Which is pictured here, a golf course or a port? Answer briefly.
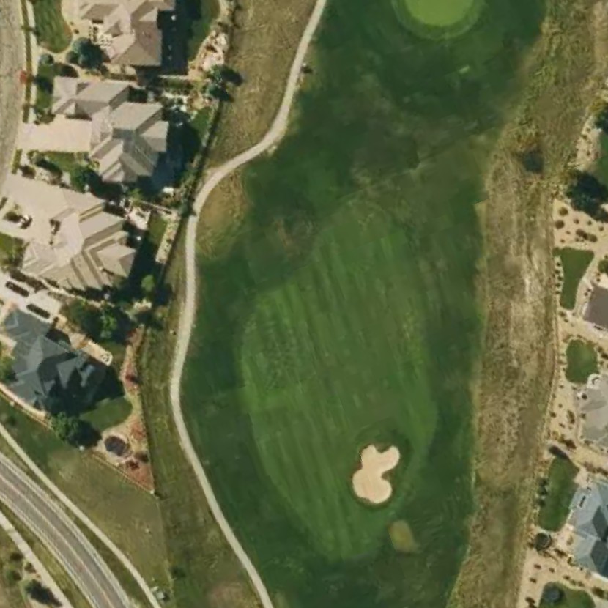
golf course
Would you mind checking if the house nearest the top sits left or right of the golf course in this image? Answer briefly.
left of it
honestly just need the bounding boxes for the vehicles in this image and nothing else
[7,282,26,295]
[27,303,46,317]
